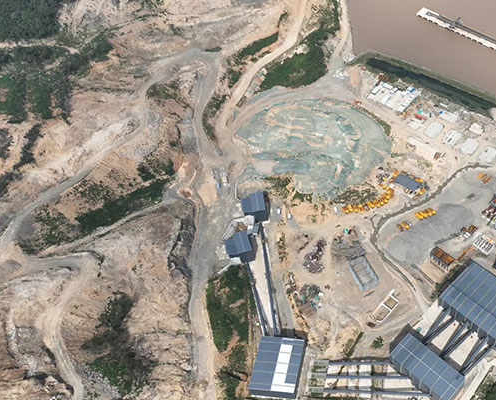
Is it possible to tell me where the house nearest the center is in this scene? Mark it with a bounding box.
[241,192,268,223]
